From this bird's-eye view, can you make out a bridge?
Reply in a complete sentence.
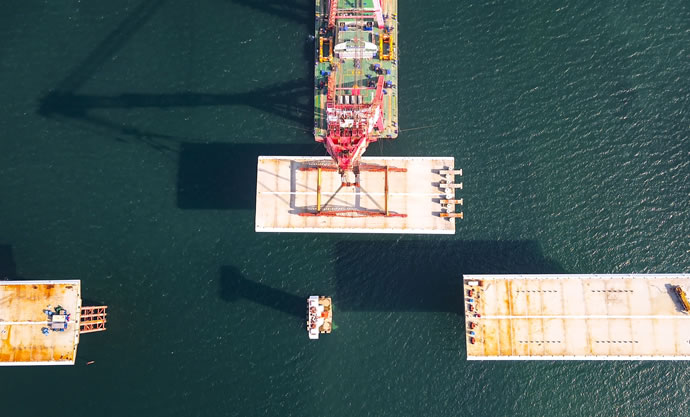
Yes, there is a bridge in the image.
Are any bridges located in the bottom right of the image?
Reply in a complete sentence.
Yes, a bridge can be seen in the bottom right of the image.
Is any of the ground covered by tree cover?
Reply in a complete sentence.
No, the picture contains no tree cover.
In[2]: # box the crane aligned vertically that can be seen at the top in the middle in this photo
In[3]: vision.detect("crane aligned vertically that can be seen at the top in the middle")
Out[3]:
[321,0,386,177]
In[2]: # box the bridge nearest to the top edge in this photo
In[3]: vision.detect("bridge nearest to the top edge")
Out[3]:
[255,157,456,234]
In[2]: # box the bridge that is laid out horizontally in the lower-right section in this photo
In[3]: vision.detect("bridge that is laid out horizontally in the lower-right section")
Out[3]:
[462,274,690,360]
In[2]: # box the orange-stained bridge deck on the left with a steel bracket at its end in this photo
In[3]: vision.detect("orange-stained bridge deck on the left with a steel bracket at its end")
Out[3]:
[0,280,82,365]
